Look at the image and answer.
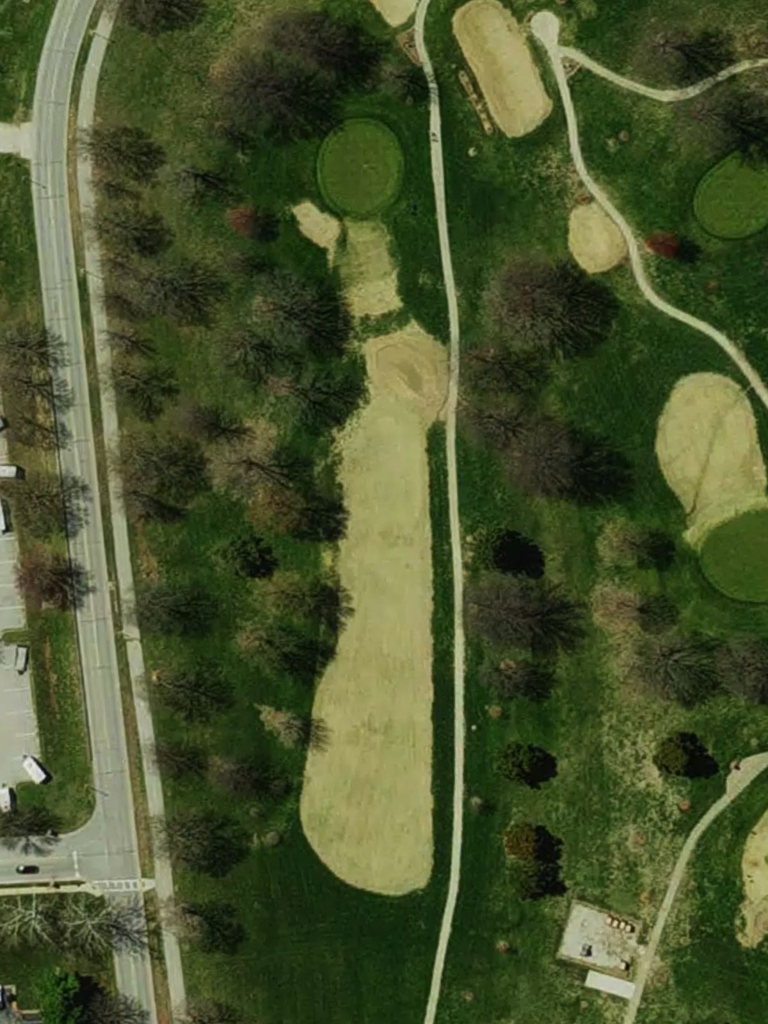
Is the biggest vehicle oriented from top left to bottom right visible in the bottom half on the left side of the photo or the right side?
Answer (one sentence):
The biggest vehicle oriented from top left to bottom right visible in the bottom half is on the left side of the image.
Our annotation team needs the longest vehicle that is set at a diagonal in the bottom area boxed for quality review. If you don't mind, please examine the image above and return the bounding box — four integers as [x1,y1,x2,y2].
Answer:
[22,756,47,784]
